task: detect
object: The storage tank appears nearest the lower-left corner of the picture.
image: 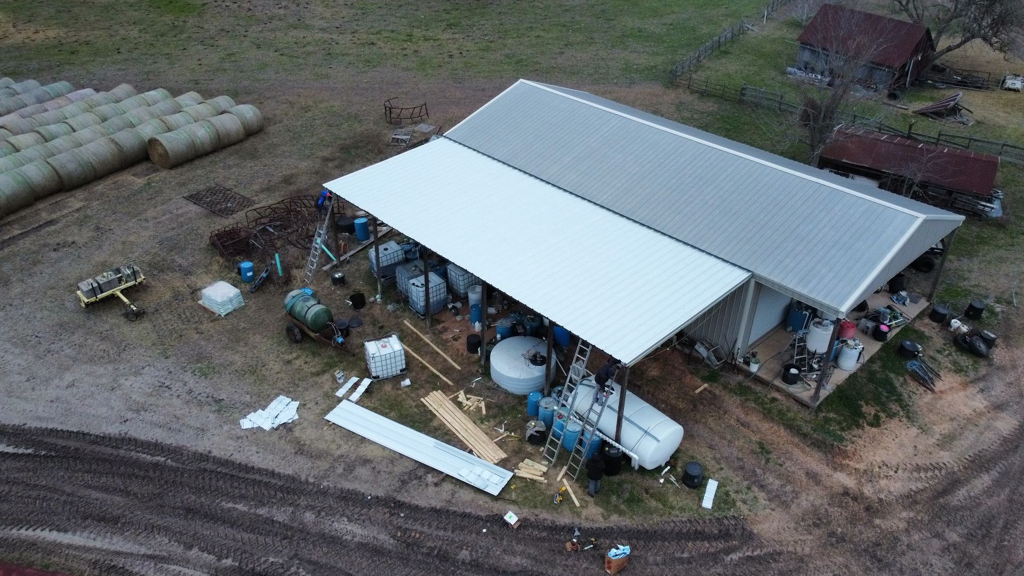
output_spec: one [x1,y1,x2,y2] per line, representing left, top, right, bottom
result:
[280,286,332,326]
